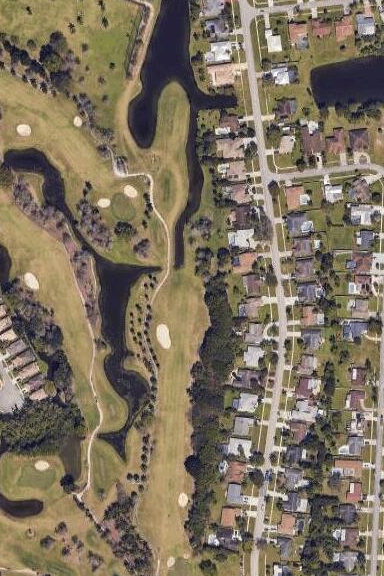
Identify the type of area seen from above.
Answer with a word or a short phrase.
golf course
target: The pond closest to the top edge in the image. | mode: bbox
[311,53,384,111]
